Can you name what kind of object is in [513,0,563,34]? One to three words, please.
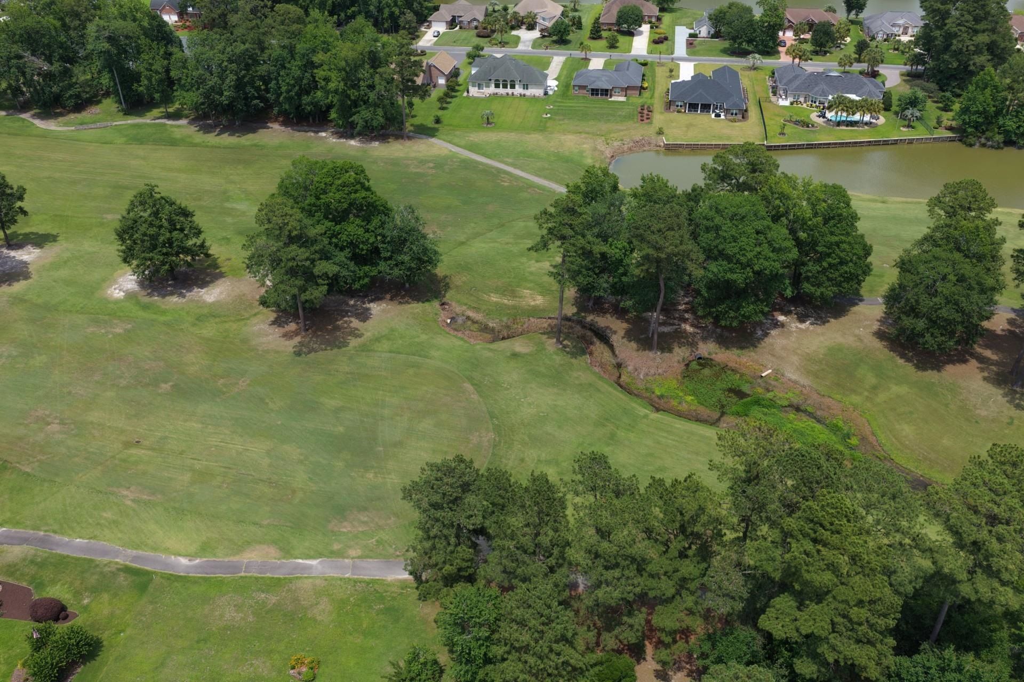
house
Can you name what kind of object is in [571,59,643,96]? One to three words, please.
house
